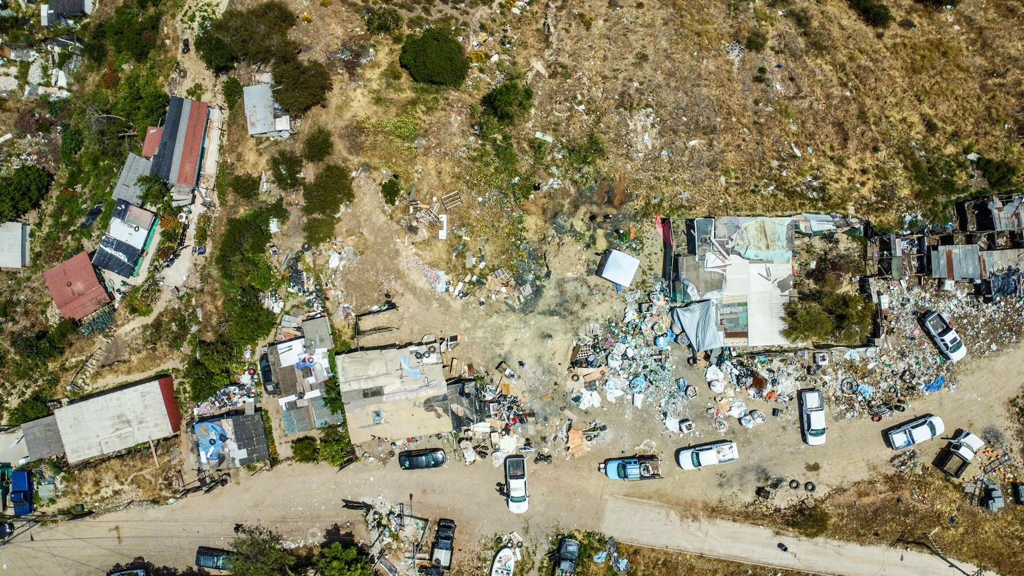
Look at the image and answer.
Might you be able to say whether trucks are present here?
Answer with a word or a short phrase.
Yes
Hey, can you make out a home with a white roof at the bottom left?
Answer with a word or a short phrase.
Yes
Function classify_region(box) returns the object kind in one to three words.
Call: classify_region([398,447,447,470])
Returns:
car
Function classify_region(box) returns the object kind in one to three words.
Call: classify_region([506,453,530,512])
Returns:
truck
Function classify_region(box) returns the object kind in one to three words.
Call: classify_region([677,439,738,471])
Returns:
truck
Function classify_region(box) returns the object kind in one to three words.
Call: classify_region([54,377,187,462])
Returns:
house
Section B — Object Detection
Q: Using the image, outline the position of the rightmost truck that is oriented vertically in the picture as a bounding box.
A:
[798,389,827,445]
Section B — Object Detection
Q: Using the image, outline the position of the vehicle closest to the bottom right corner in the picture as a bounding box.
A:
[937,429,987,487]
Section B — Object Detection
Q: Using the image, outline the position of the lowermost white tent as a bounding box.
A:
[601,249,640,287]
